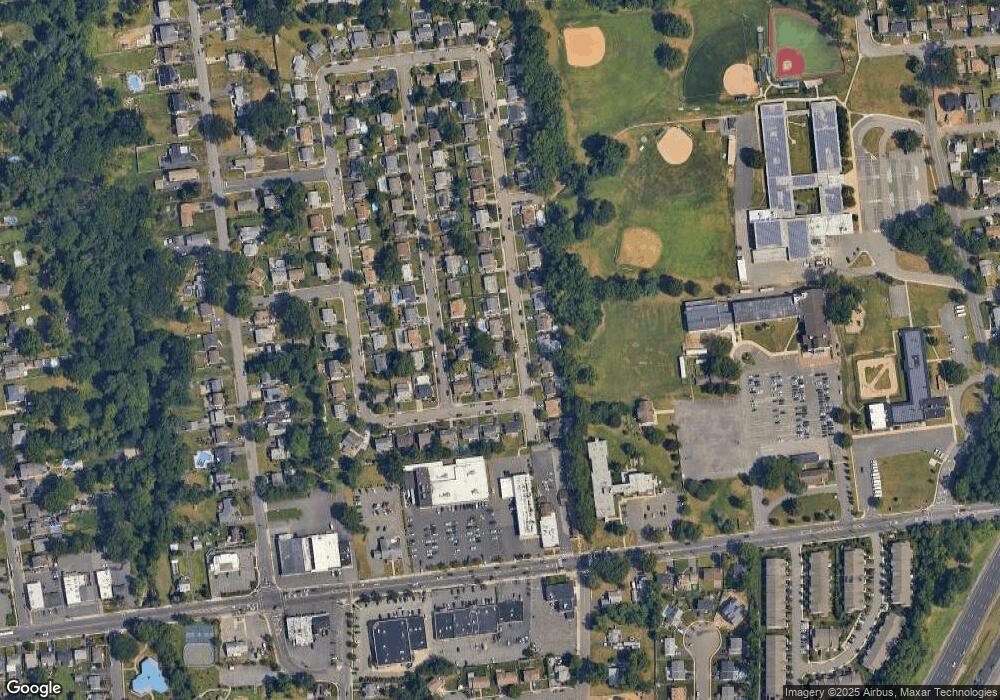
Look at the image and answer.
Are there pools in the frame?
Yes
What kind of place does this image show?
residential area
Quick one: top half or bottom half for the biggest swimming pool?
bottom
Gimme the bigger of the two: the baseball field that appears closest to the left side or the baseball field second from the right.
the baseball field second from the right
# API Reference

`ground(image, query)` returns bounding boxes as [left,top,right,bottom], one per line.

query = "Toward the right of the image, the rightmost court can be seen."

[889,285,909,318]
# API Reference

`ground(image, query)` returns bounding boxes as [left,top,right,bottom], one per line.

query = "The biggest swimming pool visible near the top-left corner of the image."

[128,73,144,93]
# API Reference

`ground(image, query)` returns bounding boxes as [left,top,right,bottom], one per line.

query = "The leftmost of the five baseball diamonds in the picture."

[561,24,606,66]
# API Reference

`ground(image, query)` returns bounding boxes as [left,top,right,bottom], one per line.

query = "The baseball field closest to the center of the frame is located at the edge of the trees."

[618,226,662,268]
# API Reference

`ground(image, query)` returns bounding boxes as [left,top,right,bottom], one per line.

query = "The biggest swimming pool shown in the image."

[131,656,169,694]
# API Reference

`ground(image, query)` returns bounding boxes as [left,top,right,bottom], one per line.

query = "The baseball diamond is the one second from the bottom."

[656,123,693,164]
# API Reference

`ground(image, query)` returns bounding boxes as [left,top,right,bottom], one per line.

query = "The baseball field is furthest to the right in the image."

[770,8,845,81]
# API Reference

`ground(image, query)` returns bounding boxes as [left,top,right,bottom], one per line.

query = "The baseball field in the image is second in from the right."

[684,23,764,99]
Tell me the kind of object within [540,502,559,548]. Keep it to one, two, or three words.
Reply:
building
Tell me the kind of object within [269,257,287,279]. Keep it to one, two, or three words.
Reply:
house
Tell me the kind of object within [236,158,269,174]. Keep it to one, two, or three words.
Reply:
house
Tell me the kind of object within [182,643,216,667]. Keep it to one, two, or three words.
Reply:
sports court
